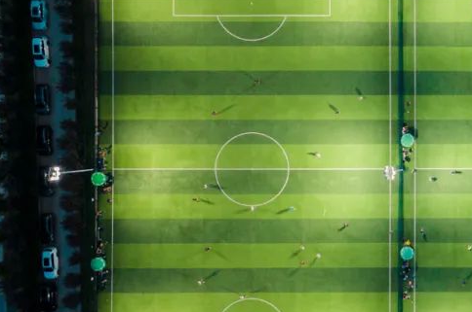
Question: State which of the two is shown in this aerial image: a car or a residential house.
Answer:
car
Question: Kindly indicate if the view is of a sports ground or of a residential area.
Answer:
sports ground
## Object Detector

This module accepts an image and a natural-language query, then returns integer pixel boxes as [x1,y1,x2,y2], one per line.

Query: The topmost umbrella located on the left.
[92,171,109,186]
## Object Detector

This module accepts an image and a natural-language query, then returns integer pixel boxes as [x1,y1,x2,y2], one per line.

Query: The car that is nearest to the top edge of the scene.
[30,0,48,30]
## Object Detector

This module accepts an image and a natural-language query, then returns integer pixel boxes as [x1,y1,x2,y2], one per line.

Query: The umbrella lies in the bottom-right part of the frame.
[400,246,413,260]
